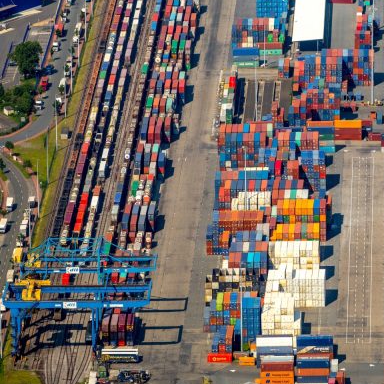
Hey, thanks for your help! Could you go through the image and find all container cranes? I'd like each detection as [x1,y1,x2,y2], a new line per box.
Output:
[20,234,161,331]
[2,274,155,366]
